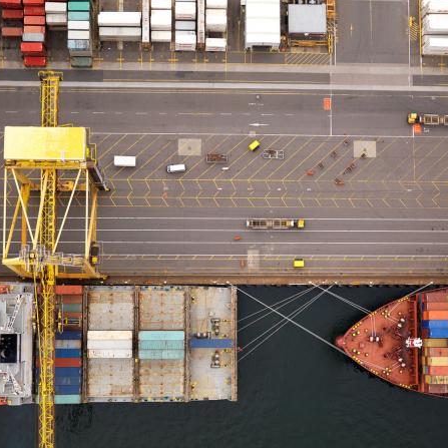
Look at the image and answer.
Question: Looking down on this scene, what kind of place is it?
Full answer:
It's a port.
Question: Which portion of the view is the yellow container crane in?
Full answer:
You can find the yellow container crane in the left area of the picture.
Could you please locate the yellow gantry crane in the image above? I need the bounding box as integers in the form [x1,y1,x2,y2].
[0,70,118,448]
